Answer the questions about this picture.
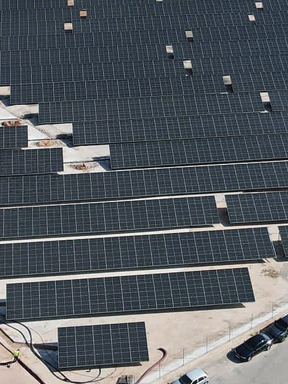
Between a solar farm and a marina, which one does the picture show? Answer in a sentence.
The area seen from above is a solar farm.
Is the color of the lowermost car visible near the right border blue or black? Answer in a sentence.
The lowermost car visible near the right border is black.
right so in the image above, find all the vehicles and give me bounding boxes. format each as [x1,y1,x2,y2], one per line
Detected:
[178,368,211,384]
[269,318,288,344]
[234,336,275,365]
